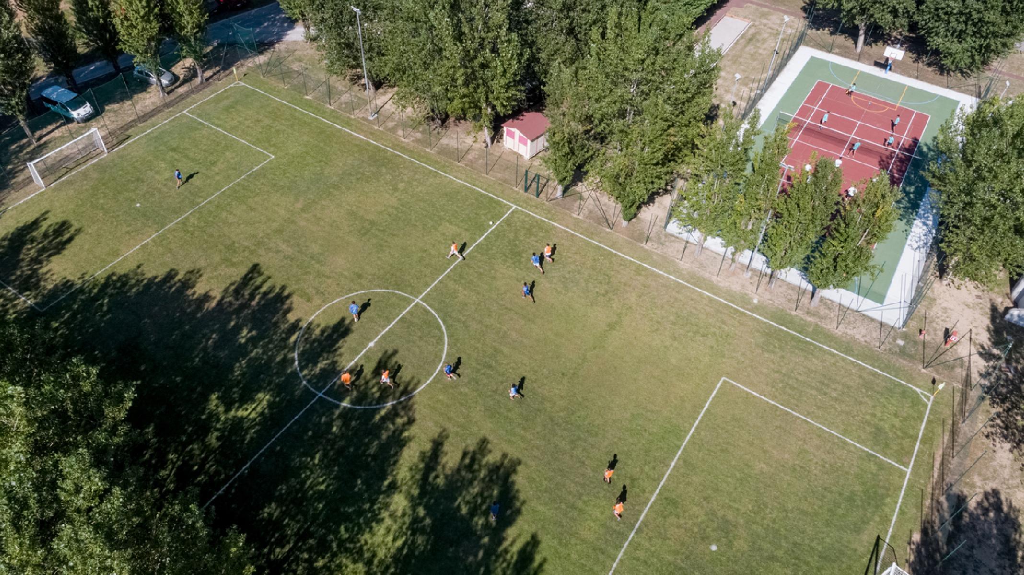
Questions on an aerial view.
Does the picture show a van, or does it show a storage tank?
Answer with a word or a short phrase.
van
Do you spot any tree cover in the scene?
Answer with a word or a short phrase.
Yes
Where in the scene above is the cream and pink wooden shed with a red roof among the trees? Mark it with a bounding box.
[501,113,549,158]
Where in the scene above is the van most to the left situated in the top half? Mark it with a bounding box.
[38,81,90,120]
